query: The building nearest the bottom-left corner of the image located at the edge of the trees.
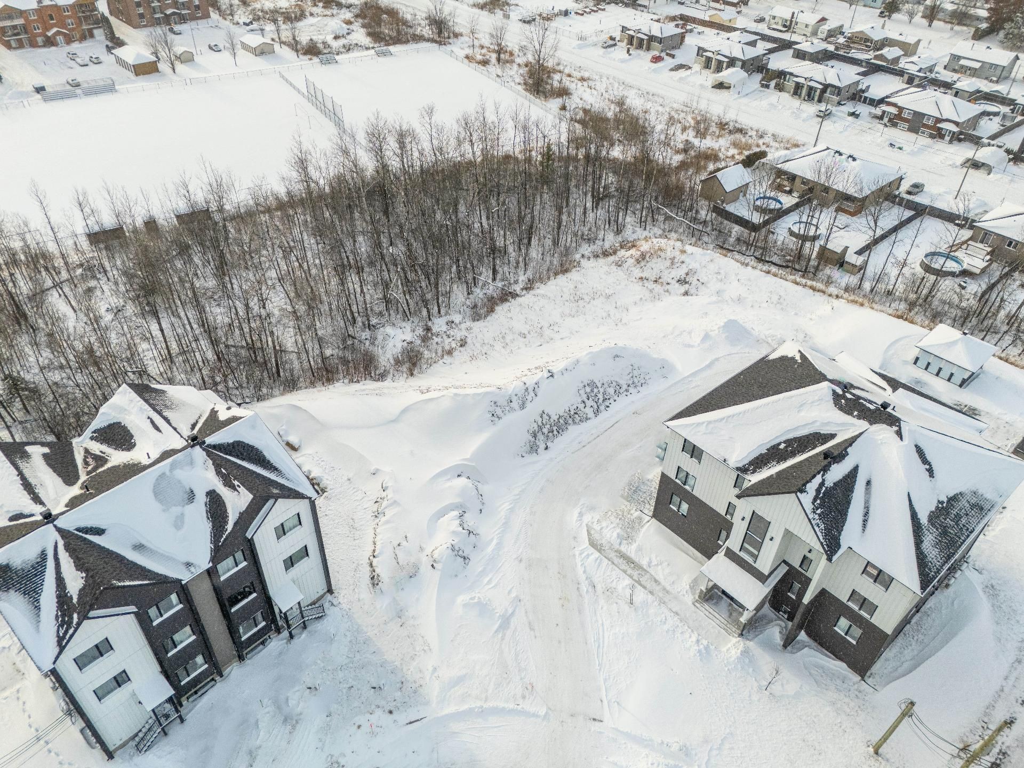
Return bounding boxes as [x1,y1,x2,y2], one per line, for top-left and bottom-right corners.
[0,380,332,759]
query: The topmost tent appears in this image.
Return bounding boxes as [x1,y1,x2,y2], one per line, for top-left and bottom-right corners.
[713,70,751,94]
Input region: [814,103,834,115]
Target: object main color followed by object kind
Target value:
white vehicle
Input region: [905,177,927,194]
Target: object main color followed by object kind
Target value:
gray car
